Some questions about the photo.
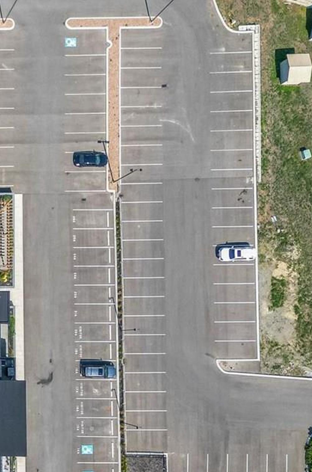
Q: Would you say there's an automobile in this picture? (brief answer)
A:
Yes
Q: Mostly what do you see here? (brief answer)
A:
paved ground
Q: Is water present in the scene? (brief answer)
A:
No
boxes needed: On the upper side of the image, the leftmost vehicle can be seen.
[71,150,108,167]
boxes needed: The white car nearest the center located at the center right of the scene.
[216,245,257,263]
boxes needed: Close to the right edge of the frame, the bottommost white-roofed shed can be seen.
[278,54,312,88]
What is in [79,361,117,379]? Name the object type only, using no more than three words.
car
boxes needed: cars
[79,361,117,379]
[216,245,257,263]
[71,150,108,167]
